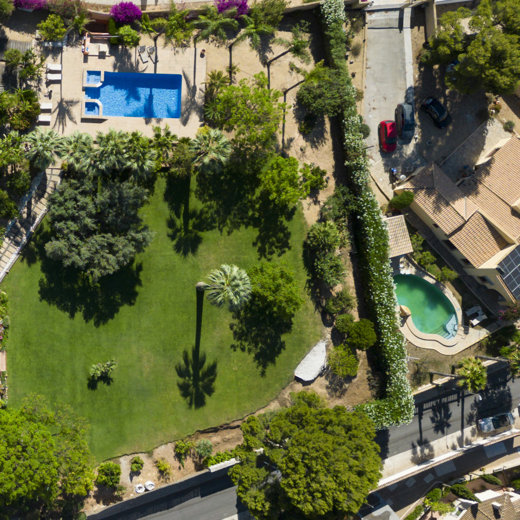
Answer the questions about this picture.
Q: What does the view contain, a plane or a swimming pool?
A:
swimming pool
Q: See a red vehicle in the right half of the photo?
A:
Yes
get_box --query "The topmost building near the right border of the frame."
[393,134,520,302]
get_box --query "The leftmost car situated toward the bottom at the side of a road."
[476,409,516,433]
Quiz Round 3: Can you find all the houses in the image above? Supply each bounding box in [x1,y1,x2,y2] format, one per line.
[393,134,520,302]
[427,491,520,520]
